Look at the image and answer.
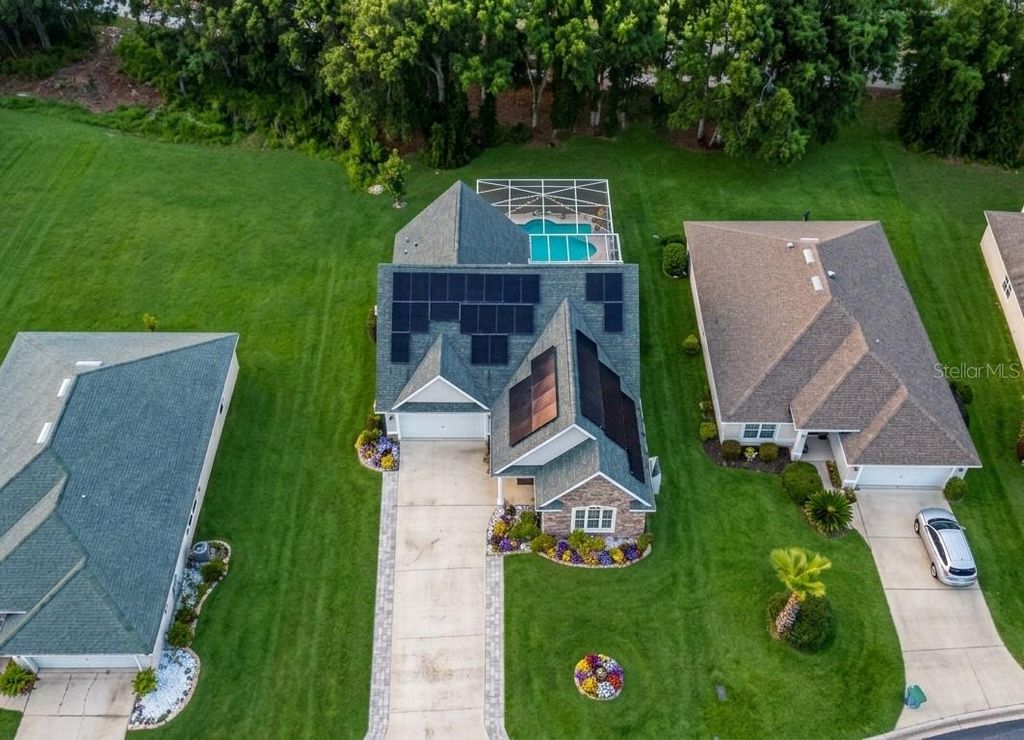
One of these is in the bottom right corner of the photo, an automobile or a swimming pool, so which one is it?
automobile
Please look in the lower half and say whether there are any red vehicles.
No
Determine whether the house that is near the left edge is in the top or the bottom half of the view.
bottom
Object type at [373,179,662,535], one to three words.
house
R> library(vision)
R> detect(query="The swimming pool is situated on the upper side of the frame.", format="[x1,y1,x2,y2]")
[515,215,601,262]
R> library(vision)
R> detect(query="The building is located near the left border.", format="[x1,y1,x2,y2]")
[0,331,240,670]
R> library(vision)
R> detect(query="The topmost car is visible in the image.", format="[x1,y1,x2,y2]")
[913,507,978,588]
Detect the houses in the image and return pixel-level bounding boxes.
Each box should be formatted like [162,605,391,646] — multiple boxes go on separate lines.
[683,220,983,488]
[980,211,1024,362]
[373,179,662,535]
[0,331,240,670]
